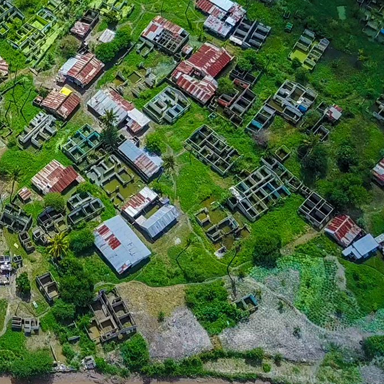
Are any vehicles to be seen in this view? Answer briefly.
No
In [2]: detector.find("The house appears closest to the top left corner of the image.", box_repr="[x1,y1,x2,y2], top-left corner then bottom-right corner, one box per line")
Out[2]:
[0,1,25,37]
